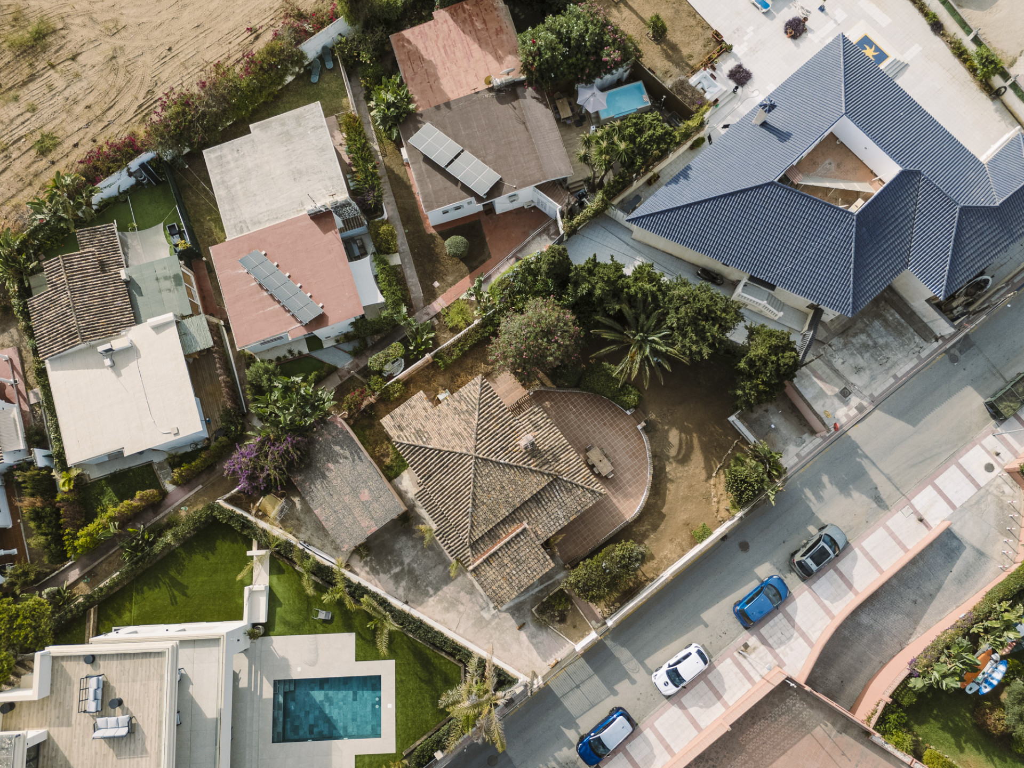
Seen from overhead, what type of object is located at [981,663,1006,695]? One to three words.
boat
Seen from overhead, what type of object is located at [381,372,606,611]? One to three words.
house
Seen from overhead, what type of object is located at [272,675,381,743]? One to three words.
swimming pool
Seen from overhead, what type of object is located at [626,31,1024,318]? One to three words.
house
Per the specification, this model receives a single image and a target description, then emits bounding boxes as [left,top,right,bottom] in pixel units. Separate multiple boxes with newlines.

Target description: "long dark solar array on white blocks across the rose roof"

[239,250,324,328]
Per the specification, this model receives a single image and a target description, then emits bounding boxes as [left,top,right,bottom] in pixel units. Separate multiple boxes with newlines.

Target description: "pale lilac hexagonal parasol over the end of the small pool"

[576,85,608,113]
